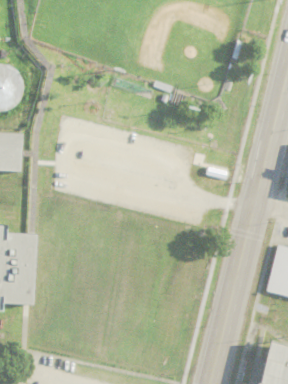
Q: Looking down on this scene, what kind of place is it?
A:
sports ground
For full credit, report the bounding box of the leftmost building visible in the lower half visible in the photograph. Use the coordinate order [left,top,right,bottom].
[0,225,38,312]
